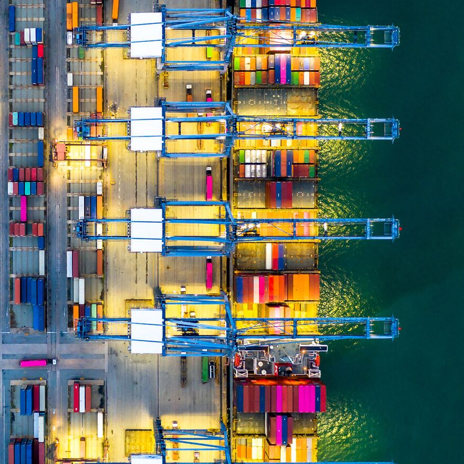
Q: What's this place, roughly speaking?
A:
port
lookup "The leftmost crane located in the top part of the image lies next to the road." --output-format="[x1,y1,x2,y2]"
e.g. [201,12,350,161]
[51,138,110,170]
